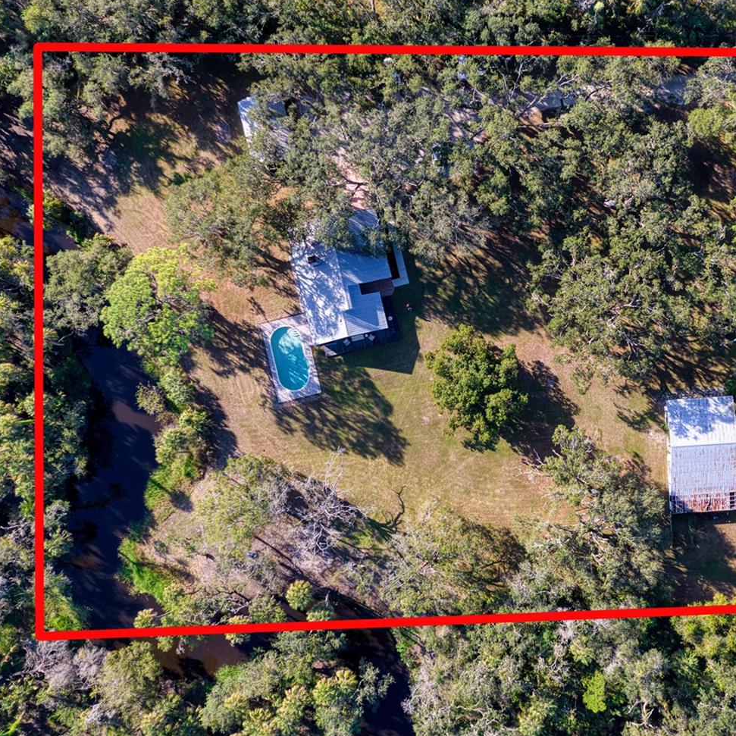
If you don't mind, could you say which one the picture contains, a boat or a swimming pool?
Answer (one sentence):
It is a swimming pool that can be seen here.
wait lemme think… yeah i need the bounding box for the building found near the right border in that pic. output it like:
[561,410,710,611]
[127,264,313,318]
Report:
[663,396,736,516]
